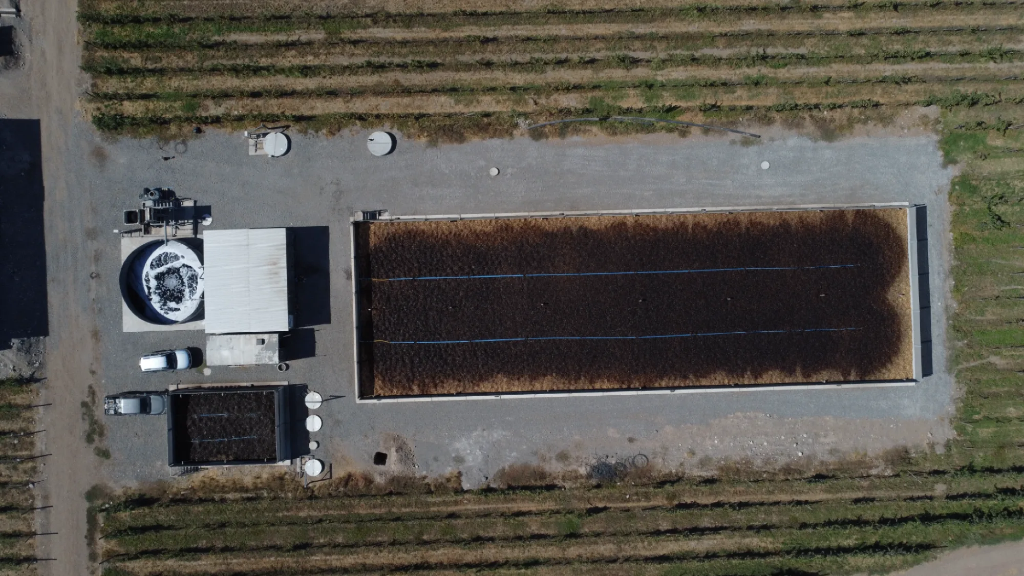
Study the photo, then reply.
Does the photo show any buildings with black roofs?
No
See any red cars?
No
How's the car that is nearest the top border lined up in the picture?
from left to right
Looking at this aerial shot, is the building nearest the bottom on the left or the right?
left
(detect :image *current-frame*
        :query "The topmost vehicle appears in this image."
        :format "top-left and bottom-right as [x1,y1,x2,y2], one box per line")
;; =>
[138,349,194,374]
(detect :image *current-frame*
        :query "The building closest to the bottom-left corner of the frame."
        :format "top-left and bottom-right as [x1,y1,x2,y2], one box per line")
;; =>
[206,333,288,365]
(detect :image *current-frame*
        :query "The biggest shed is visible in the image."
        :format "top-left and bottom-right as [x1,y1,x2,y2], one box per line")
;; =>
[203,228,297,333]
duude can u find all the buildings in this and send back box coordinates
[203,228,297,333]
[206,333,288,365]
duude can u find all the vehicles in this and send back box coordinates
[138,349,194,374]
[103,393,168,419]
